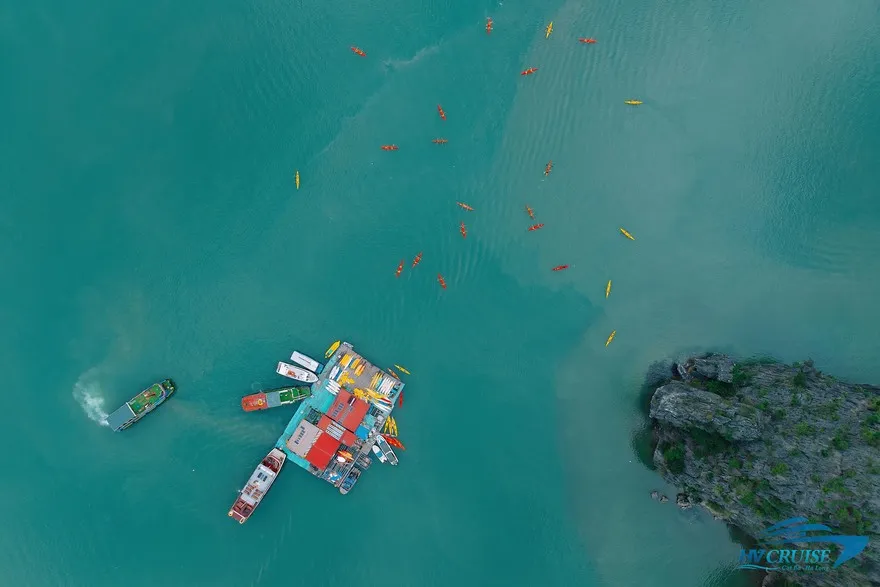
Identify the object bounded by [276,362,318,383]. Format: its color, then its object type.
white boat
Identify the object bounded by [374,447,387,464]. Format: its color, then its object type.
white boat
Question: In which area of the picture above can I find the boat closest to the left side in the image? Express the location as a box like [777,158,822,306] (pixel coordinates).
[104,381,172,431]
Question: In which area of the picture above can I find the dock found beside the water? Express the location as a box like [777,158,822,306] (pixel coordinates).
[277,344,406,486]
